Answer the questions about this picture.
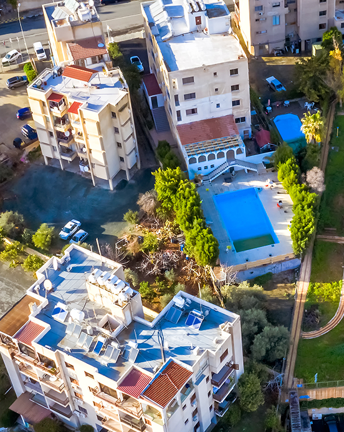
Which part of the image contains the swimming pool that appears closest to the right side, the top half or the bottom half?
top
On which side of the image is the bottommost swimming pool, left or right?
right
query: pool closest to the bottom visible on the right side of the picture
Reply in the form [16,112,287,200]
[211,185,281,254]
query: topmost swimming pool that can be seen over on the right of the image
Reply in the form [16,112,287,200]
[271,111,308,144]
